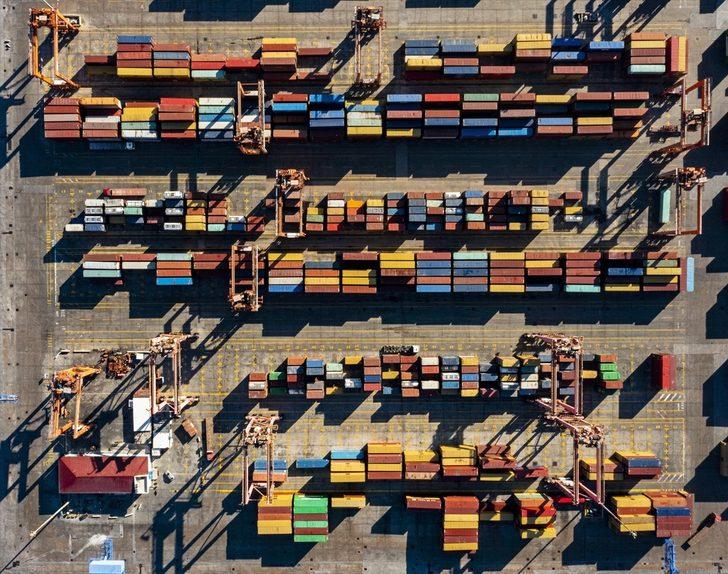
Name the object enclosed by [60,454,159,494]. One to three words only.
building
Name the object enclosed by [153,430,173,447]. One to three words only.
shed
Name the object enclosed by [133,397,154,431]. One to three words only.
shed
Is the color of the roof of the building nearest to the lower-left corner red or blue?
red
